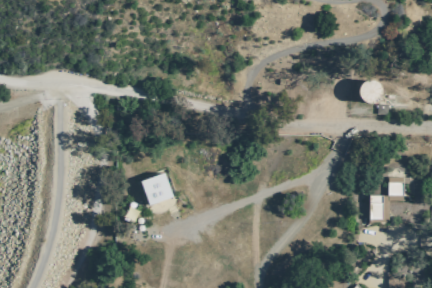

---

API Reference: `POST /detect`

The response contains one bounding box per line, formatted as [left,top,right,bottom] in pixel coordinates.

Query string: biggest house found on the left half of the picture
[142,174,174,206]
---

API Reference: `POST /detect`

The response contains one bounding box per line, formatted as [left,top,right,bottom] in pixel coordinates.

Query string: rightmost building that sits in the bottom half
[370,178,406,221]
